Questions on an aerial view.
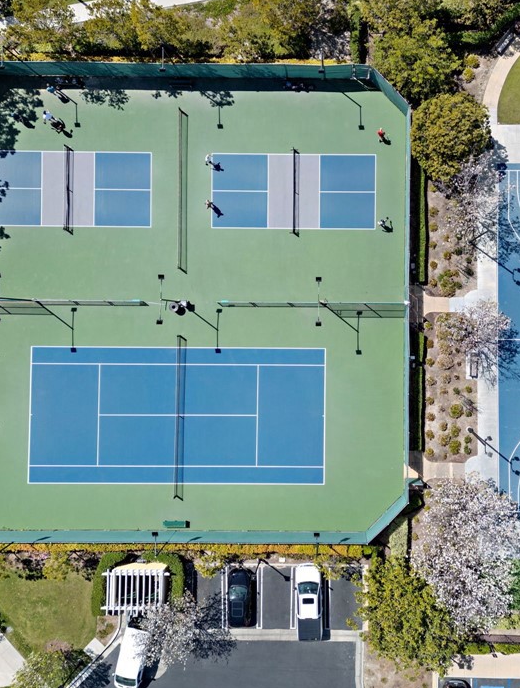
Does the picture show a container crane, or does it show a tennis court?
tennis court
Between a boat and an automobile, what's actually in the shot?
automobile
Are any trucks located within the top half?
No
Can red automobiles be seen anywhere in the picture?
No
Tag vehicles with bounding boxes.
[225,562,254,624]
[294,560,324,640]
[111,624,149,688]
[443,674,467,688]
